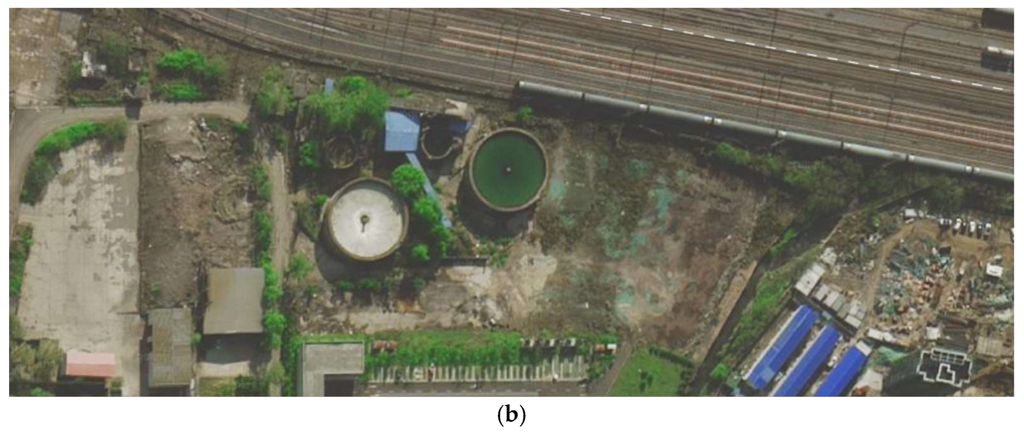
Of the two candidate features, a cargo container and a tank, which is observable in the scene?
tank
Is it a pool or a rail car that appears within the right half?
rail car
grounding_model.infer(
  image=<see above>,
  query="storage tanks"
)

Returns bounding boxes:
[321,179,408,261]
[466,126,548,213]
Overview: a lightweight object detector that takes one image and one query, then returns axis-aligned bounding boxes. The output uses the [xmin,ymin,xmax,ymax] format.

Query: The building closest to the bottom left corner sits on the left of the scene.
[65,350,116,375]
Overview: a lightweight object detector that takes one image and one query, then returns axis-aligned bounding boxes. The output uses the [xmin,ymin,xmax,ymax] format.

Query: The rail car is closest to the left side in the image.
[517,82,584,102]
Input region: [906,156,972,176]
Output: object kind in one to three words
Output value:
rail car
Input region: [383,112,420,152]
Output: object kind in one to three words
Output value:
building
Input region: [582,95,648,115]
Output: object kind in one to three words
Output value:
rail car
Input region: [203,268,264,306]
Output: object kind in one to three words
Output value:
shed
